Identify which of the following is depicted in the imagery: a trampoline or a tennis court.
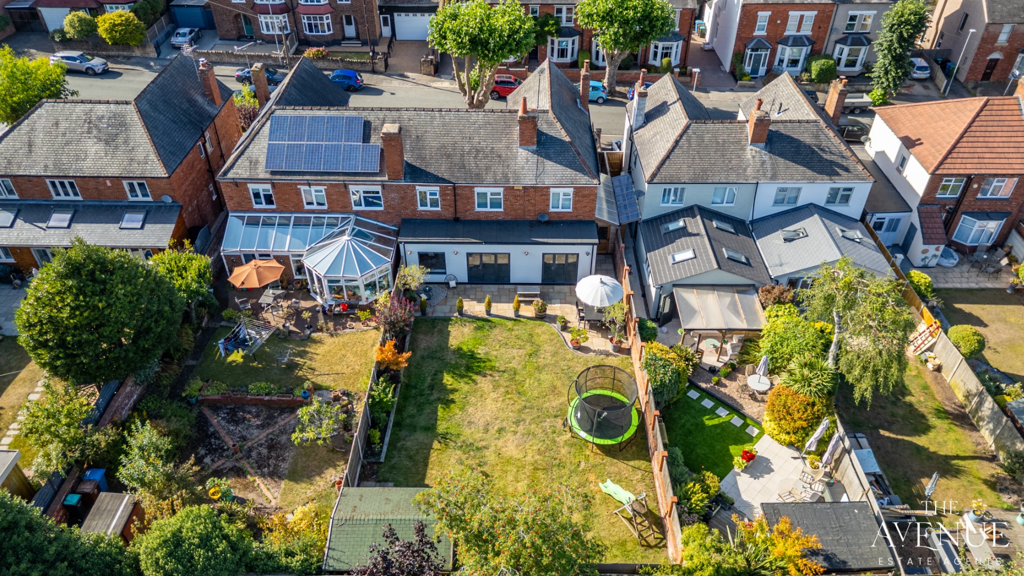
trampoline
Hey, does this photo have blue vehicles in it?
Yes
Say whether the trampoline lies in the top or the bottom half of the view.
bottom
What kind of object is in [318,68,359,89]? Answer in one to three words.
car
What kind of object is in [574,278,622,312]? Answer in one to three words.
umbrella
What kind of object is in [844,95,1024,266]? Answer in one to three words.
house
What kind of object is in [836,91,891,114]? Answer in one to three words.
trailer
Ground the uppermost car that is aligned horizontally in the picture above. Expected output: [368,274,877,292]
[170,29,211,46]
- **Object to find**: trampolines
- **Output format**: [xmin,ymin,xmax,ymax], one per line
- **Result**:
[567,363,644,451]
